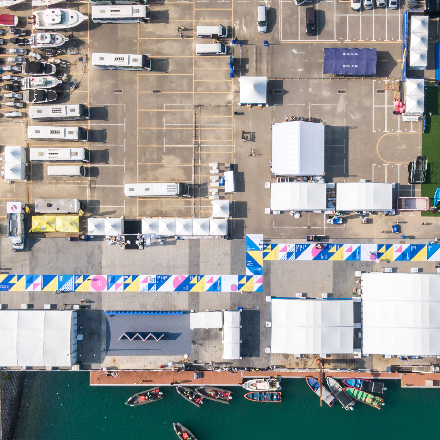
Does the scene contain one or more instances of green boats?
Yes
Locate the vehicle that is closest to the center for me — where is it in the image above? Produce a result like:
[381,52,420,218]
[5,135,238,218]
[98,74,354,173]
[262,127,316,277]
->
[127,181,188,198]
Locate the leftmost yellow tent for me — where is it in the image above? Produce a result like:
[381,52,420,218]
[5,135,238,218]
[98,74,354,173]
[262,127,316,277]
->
[32,215,58,233]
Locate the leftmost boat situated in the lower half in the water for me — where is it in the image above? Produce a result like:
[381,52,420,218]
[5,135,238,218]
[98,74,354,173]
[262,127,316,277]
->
[125,386,164,406]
